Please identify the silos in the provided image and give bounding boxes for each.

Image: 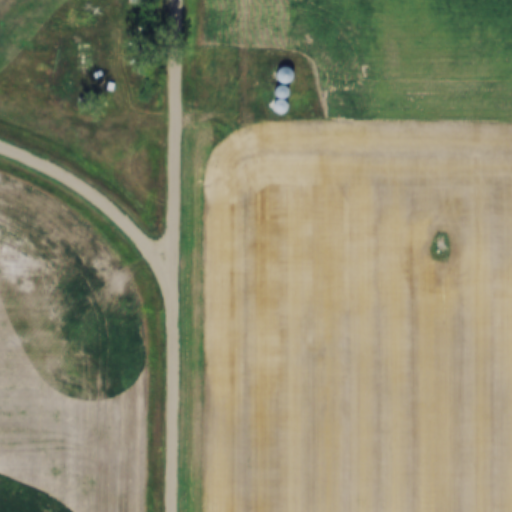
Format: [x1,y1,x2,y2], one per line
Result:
[276,66,295,86]
[274,85,290,100]
[273,100,289,116]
